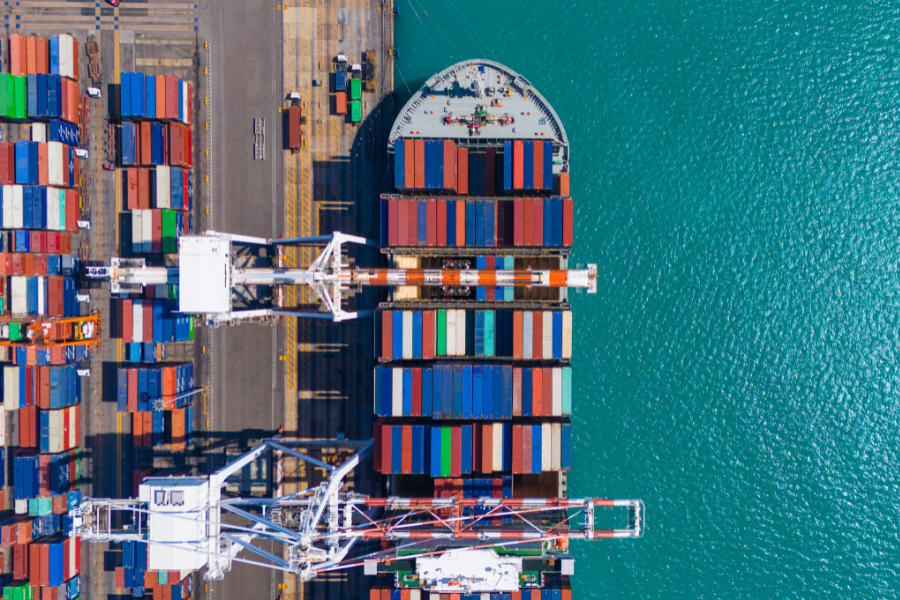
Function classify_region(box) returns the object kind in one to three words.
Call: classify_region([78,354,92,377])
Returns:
vehicle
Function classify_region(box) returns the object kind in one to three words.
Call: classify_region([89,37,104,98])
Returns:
vehicle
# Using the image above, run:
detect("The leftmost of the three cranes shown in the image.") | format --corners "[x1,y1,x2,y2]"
[0,309,99,352]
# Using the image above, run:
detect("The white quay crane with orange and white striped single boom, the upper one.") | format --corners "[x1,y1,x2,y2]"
[83,232,598,330]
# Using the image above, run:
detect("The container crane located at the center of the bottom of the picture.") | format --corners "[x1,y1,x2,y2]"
[70,418,647,583]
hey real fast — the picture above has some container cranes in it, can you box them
[0,309,99,352]
[83,232,598,330]
[70,418,647,583]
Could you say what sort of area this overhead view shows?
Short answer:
port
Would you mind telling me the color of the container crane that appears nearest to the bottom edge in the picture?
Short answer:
white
